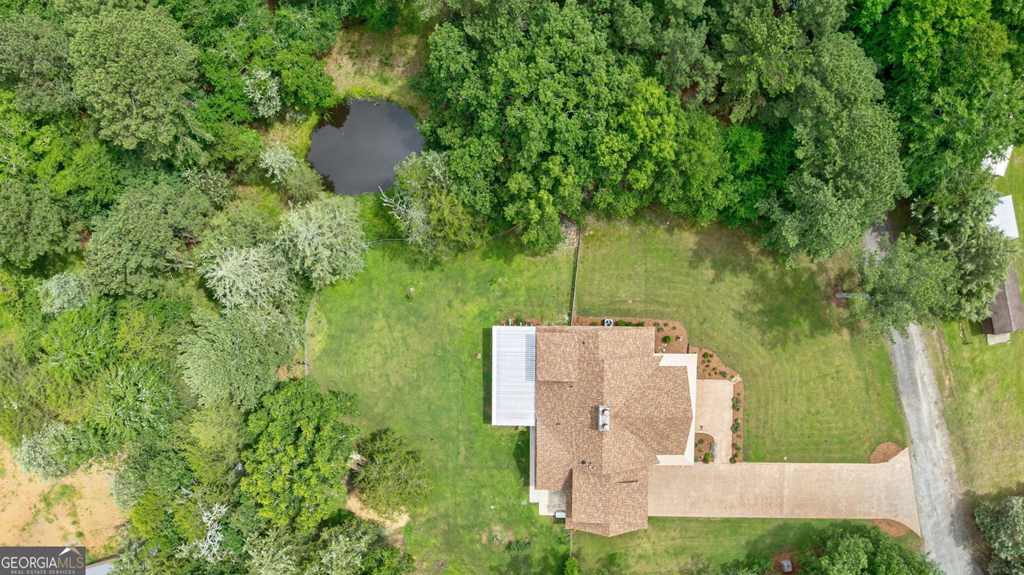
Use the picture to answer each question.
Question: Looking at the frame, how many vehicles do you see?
0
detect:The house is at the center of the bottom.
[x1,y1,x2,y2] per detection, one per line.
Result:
[492,319,697,537]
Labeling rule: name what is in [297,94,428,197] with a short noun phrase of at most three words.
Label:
pond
